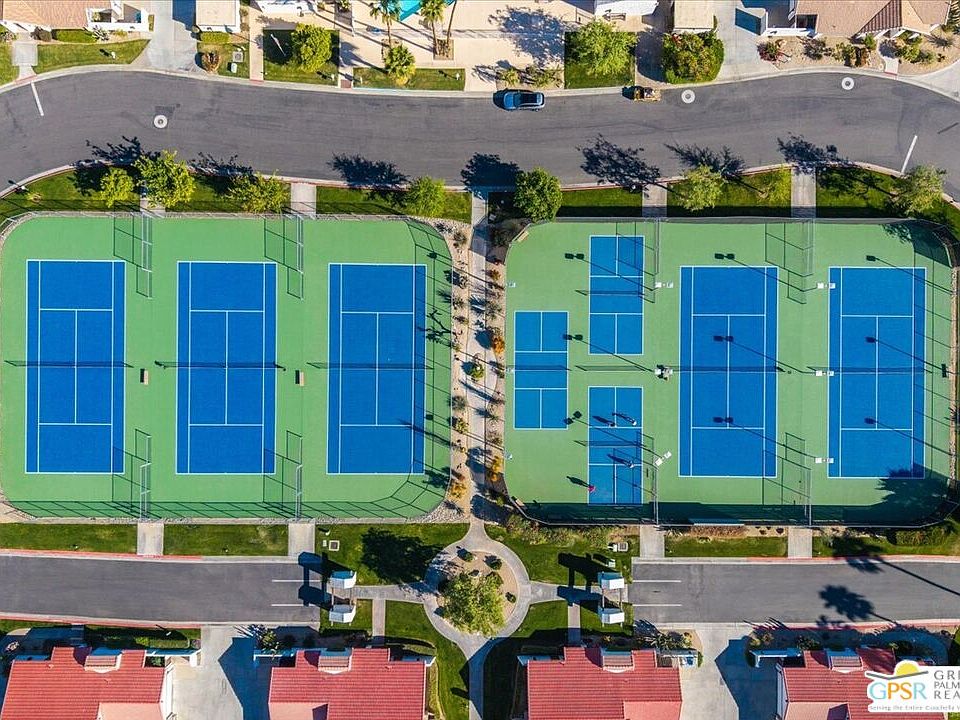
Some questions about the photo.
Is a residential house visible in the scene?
Yes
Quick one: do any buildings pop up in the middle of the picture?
No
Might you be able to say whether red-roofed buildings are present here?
Yes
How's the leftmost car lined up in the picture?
horizontally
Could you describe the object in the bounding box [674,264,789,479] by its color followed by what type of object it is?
blue tennis court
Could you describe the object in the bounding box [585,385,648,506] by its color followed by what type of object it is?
blue sports court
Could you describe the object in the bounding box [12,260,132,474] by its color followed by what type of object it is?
blue tennis court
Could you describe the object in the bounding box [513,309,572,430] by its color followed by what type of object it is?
blue sports court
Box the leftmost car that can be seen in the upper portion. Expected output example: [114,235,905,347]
[502,91,547,112]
